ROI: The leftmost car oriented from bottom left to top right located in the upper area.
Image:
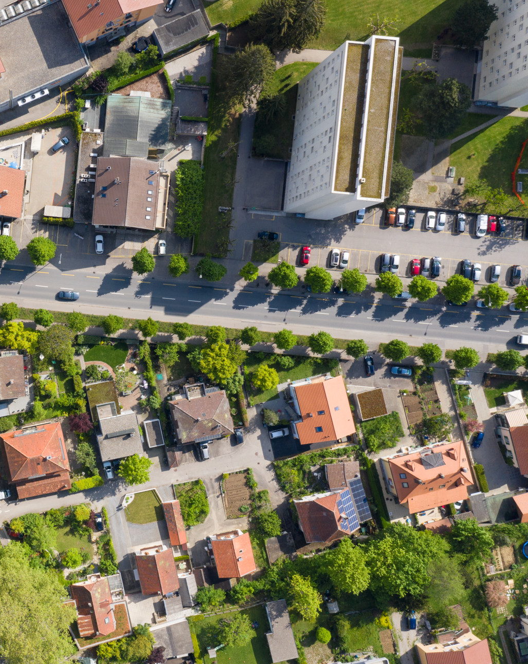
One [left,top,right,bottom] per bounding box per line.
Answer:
[51,136,70,153]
